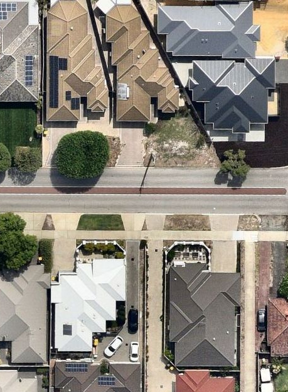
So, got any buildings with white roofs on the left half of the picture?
Yes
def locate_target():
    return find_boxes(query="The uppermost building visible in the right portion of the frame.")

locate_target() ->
[156,1,260,59]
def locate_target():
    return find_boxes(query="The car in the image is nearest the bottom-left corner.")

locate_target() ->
[103,334,123,359]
